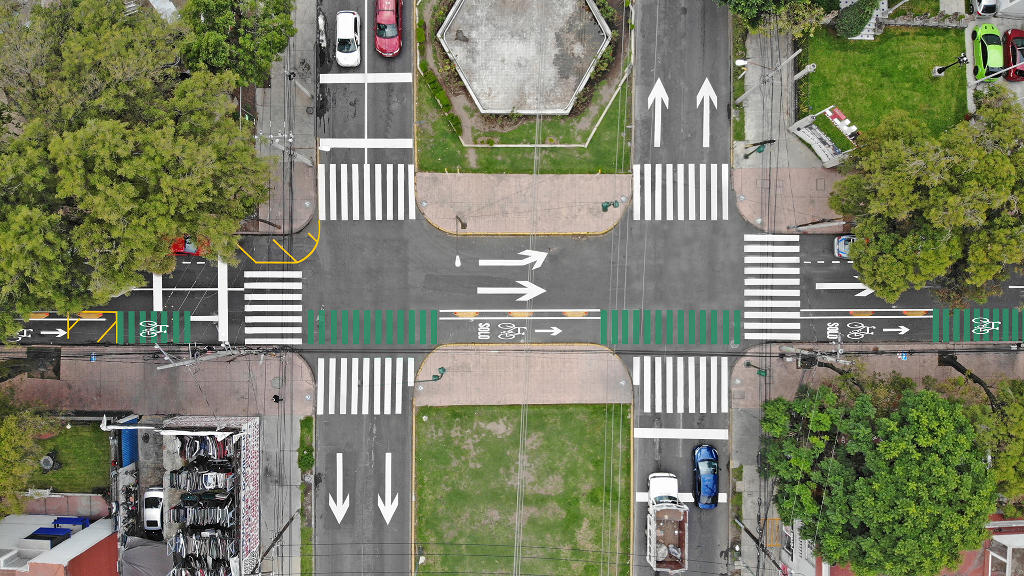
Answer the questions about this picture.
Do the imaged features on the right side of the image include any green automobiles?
Yes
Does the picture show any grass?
Yes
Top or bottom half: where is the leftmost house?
bottom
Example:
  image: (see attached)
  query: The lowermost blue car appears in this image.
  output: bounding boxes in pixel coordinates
[693,445,725,511]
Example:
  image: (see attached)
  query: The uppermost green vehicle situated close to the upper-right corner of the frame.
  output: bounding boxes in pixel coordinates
[972,20,1010,79]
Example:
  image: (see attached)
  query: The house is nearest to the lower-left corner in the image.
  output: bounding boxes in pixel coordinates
[0,518,116,576]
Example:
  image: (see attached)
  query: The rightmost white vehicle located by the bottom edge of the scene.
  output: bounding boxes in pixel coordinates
[644,470,688,572]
